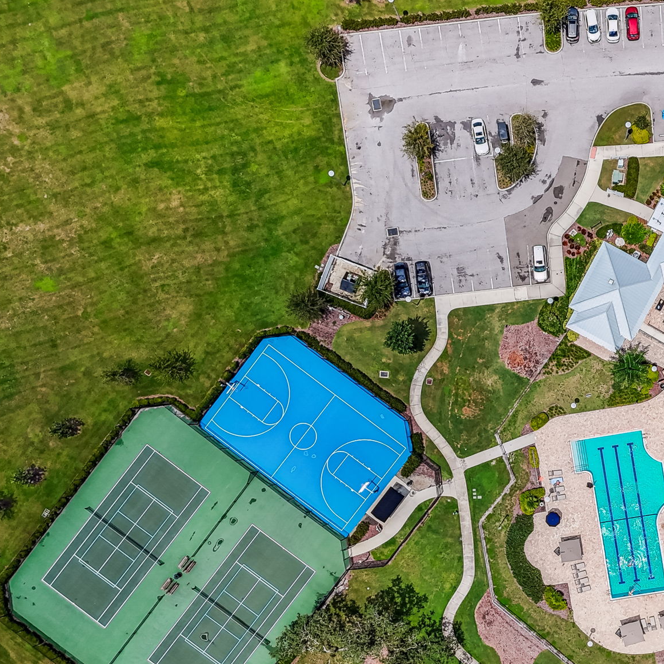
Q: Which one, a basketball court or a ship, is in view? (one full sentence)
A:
Looking from above, you can make out a basketball court.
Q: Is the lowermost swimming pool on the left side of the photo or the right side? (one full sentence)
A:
The lowermost swimming pool sits on the right side.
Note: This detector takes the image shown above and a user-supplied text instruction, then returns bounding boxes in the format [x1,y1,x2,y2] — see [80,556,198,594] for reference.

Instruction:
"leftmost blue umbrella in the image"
[545,511,560,526]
